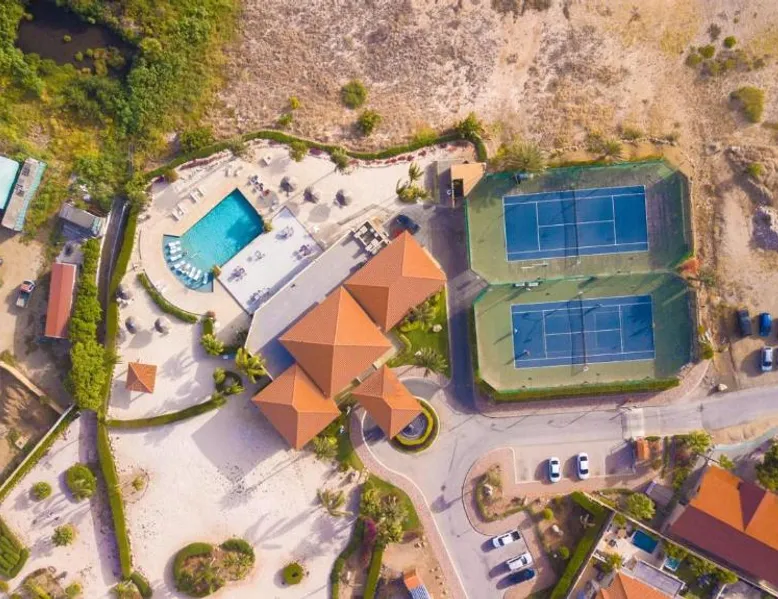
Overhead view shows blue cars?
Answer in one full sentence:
Yes, the image includes a blue car.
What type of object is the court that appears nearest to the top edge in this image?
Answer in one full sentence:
The court that appears nearest to the top edge appears to be a tennis court.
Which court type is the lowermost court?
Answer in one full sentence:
I'd identify the lowermost court as a tennis court.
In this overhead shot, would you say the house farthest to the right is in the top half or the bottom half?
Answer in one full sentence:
It is in the bottom half that the house farthest to the right appears.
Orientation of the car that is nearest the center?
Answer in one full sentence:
From this overhead view, the car that is nearest the center appears to run on a diagonal.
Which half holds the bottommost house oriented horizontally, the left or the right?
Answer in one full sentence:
It is on the right.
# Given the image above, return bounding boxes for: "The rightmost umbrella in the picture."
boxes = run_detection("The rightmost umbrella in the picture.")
[335,189,353,207]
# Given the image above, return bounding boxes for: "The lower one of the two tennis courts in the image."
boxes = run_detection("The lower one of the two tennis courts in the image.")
[478,271,690,392]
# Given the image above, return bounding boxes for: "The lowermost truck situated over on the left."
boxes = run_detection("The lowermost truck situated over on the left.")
[13,278,36,307]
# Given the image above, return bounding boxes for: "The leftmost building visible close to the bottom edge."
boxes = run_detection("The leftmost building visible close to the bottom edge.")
[399,566,434,599]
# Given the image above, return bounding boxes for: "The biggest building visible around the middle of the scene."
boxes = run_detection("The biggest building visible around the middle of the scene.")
[245,218,446,450]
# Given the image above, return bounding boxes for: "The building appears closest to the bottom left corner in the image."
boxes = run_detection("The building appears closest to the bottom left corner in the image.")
[125,362,162,394]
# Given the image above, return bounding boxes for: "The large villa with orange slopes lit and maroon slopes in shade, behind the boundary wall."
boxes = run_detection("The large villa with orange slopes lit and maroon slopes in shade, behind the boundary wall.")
[665,464,778,580]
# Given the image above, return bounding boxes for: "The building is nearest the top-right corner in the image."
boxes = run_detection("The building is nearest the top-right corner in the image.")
[450,163,485,208]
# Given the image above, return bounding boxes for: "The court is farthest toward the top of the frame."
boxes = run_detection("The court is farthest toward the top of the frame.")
[467,161,688,284]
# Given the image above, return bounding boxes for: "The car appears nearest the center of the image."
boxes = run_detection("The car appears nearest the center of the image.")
[394,209,421,234]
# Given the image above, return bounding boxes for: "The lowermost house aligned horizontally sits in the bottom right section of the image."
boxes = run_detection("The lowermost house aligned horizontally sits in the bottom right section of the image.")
[587,554,685,599]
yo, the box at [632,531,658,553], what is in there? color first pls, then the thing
blue swimming pool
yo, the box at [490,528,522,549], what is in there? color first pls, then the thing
white vehicle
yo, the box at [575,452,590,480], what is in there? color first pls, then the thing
white car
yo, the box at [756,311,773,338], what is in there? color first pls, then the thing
blue car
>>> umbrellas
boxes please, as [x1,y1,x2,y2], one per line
[126,315,144,334]
[335,189,353,207]
[302,186,320,204]
[156,315,173,334]
[117,284,134,302]
[280,176,299,194]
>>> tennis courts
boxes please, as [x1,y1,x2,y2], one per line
[467,161,688,284]
[478,271,690,392]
